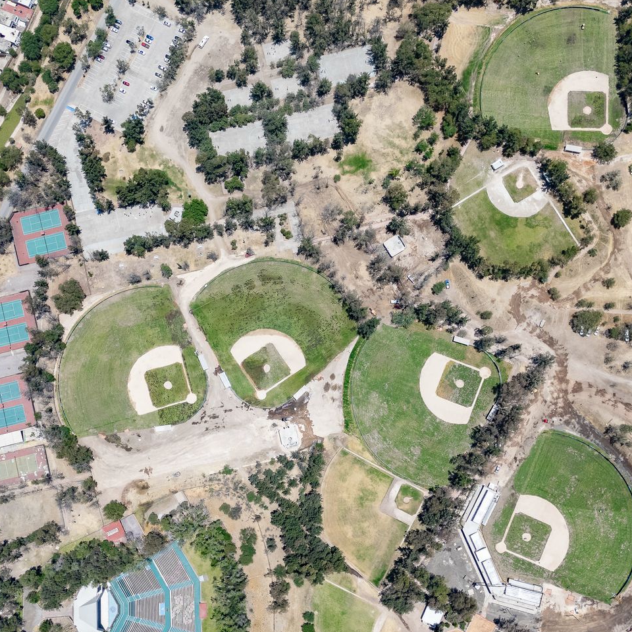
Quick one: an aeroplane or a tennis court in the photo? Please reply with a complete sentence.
Of the two, only a tennis court appears.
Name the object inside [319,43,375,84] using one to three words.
sports court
